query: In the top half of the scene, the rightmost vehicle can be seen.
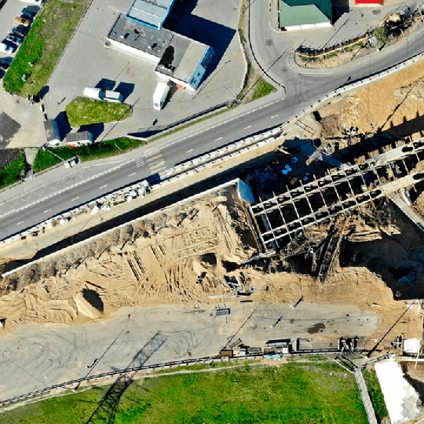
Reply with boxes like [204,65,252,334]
[153,82,171,113]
